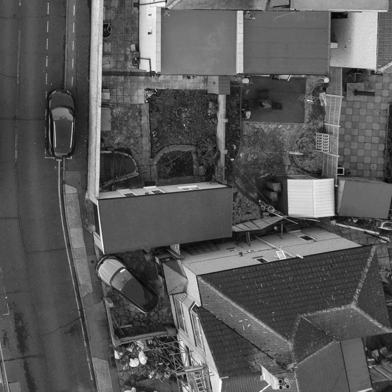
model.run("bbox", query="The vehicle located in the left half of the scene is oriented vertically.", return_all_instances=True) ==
[42,88,77,160]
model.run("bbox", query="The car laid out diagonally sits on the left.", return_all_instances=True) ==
[97,252,159,319]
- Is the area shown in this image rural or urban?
urban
